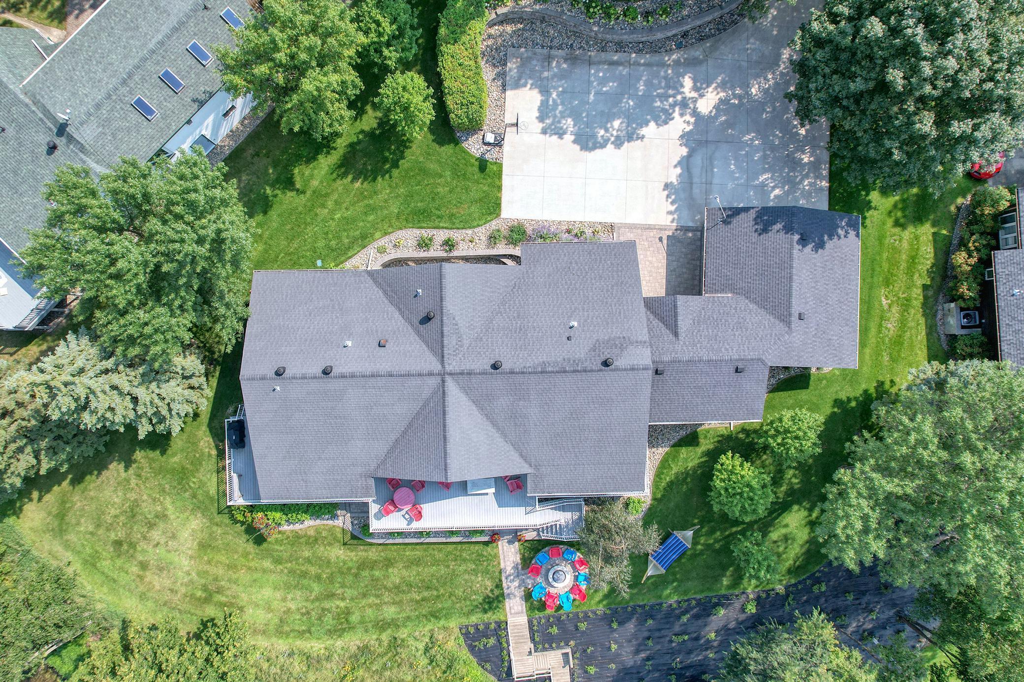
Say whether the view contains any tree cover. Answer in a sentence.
Yes, there is tree cover in the image.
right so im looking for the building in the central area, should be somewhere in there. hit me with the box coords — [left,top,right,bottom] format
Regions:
[240,194,863,505]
